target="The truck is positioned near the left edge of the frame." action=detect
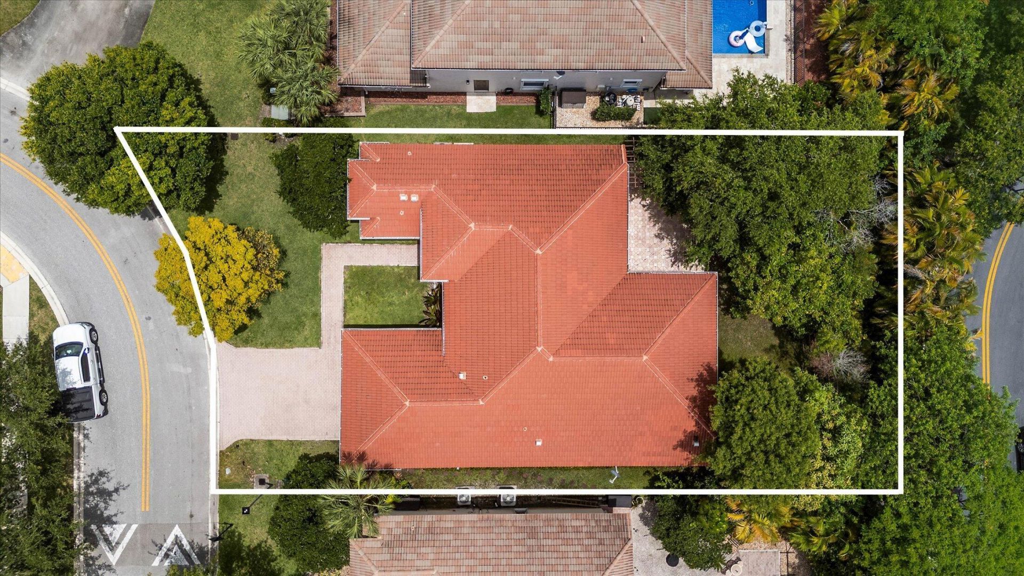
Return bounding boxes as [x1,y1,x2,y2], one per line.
[47,317,106,424]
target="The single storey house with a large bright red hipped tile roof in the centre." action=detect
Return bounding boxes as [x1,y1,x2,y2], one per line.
[339,142,719,470]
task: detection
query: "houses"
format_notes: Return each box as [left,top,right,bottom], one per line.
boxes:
[335,0,714,101]
[339,142,719,470]
[350,506,633,576]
